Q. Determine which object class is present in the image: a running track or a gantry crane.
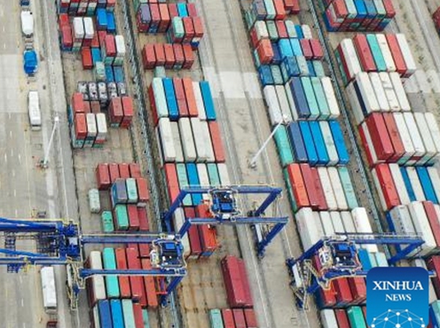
gantry crane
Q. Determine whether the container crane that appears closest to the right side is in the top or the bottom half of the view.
bottom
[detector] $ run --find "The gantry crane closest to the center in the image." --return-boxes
[159,183,290,254]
